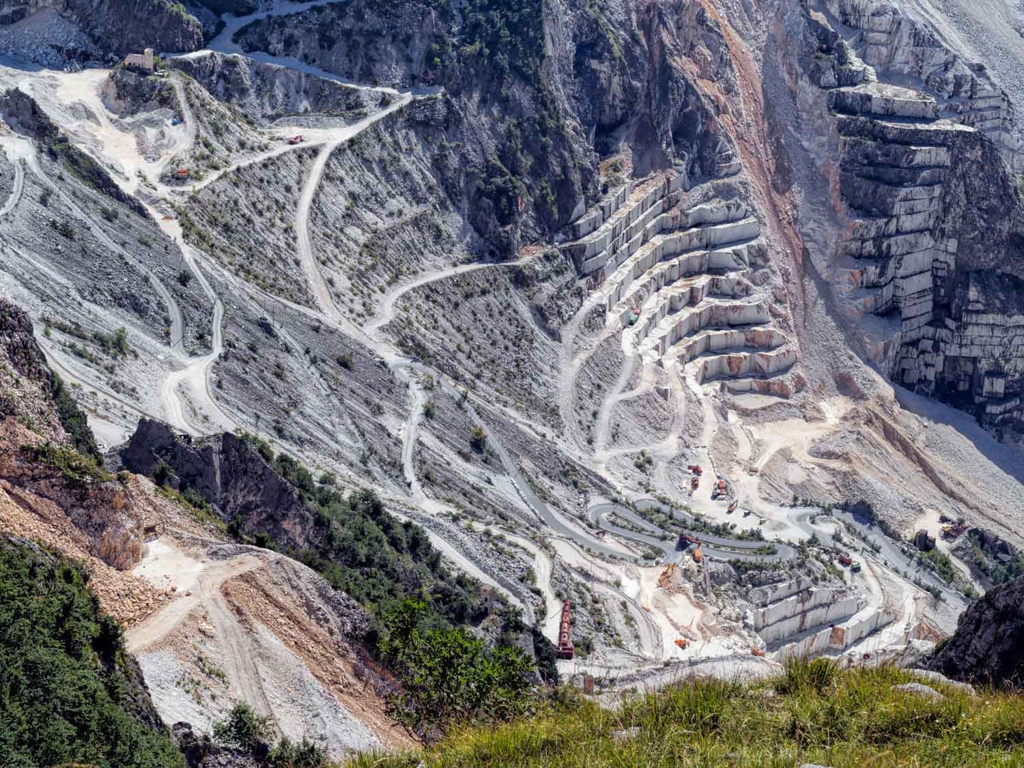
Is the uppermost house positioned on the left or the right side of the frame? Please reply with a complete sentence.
The uppermost house sits on the left side.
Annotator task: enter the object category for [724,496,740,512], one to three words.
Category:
work vehicle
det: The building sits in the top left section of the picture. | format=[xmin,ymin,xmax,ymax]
[126,48,161,74]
